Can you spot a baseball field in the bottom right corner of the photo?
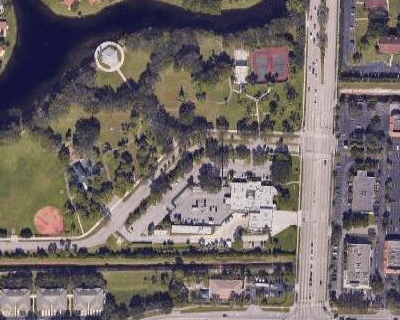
No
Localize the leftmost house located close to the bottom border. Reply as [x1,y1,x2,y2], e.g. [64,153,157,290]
[0,288,30,315]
